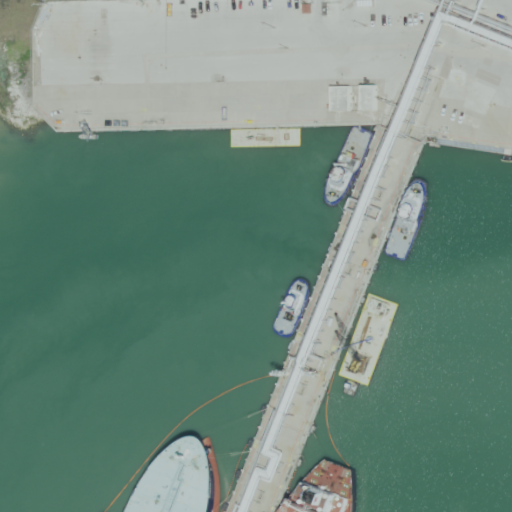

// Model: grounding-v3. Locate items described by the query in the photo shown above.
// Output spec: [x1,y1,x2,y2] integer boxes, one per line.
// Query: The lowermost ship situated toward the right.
[276,458,354,512]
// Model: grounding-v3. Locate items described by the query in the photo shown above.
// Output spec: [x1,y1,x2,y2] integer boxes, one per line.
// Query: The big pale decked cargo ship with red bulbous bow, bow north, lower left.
[124,430,219,512]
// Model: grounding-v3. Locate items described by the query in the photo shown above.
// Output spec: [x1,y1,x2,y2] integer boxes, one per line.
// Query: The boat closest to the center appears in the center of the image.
[275,276,308,338]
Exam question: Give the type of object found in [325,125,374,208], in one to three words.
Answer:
boat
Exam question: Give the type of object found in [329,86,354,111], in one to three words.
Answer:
shed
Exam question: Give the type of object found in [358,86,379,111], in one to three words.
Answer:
shed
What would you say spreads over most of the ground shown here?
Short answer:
water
